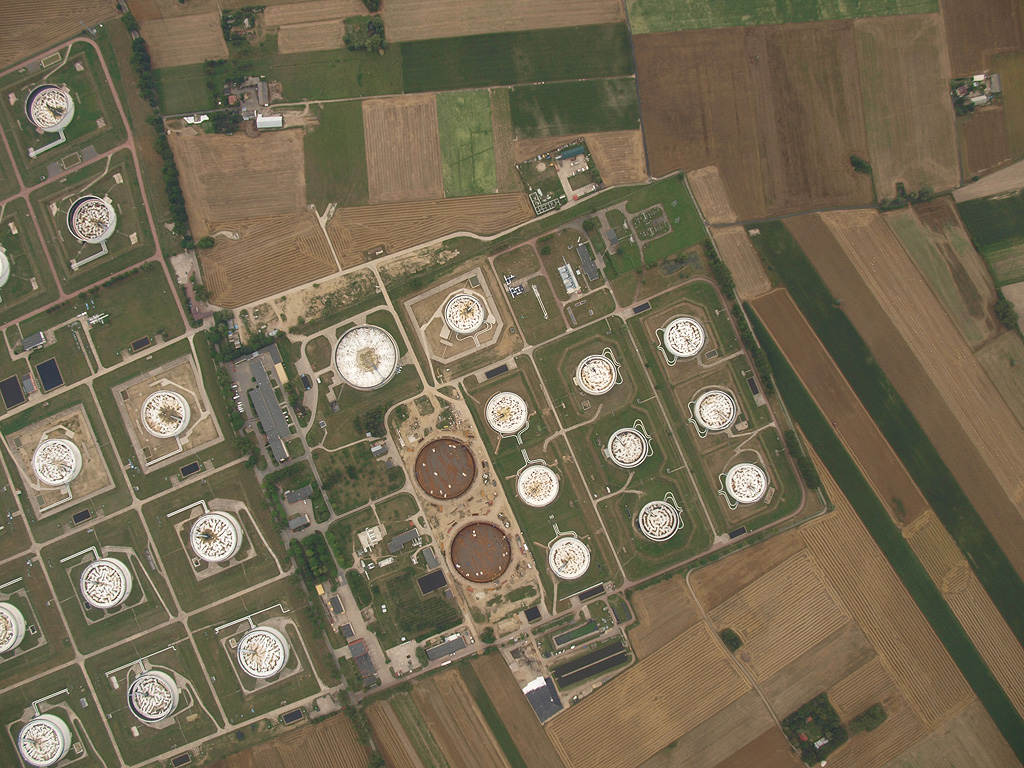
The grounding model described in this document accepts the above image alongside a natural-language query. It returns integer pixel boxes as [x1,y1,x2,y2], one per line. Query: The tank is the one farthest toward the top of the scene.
[25,84,75,132]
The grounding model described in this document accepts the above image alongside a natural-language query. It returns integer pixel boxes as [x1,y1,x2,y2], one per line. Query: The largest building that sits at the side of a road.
[249,360,292,461]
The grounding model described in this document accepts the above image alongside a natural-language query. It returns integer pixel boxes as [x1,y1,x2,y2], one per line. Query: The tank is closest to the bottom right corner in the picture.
[724,462,767,503]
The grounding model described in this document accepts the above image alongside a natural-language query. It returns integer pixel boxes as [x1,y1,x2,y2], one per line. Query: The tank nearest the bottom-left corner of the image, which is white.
[16,715,70,767]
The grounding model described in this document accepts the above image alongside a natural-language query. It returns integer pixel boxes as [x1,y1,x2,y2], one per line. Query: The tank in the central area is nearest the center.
[487,391,529,433]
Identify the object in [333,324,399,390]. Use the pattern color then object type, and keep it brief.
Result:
white storage tank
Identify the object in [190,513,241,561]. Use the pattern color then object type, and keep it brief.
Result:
white storage tank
